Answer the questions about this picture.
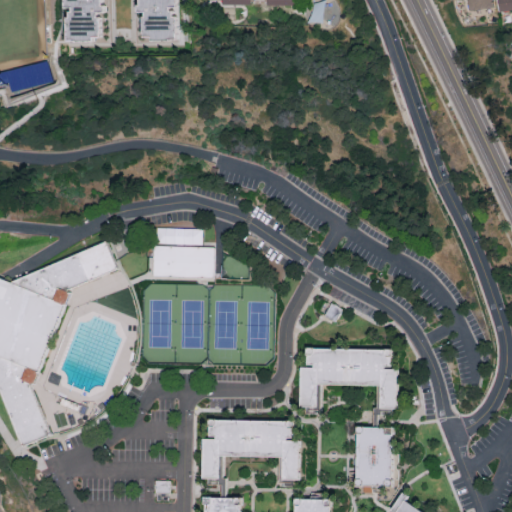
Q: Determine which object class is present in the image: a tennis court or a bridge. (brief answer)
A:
tennis court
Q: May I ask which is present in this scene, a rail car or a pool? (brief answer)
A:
pool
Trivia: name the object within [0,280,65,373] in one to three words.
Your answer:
building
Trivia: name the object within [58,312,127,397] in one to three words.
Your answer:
swimming pool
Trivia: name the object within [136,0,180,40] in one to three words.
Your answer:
building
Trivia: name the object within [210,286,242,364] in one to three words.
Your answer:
tennis court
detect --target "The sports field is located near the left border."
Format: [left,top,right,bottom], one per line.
[0,0,47,72]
